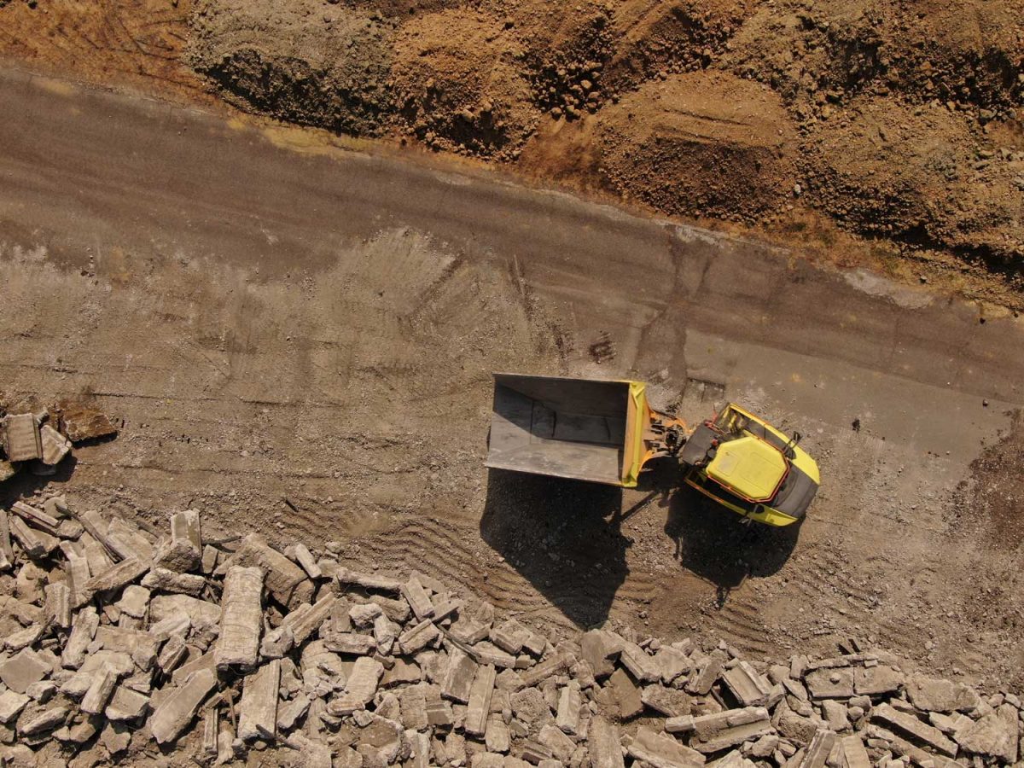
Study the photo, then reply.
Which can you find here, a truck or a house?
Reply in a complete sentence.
This aerial view contains a truck.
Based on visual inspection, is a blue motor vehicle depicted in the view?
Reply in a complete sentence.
No, there's no blue motor vehicle here.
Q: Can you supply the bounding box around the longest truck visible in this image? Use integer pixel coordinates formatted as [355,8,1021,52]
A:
[485,374,818,528]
